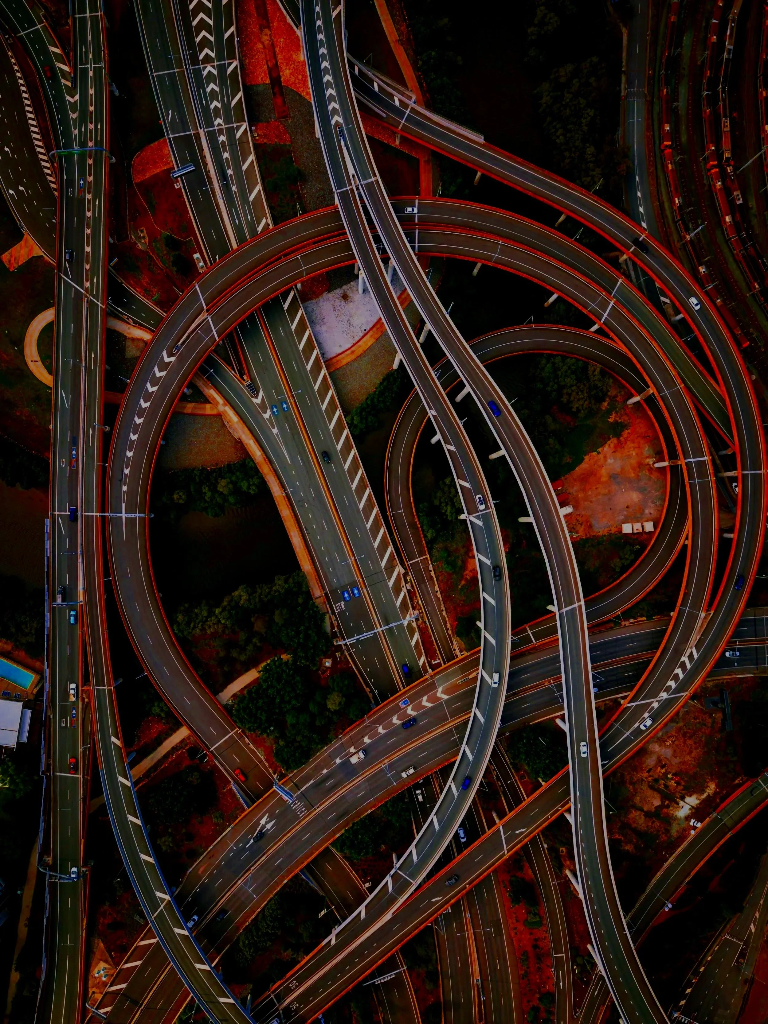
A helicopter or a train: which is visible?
train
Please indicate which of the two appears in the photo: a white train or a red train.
red train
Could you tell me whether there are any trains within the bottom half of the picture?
No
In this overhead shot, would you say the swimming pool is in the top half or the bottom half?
bottom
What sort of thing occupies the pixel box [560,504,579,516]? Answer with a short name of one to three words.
vehicle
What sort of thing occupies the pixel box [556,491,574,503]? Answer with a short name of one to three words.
vehicle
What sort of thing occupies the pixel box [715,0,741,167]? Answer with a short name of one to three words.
train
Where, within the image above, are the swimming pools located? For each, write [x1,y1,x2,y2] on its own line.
[0,657,35,690]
